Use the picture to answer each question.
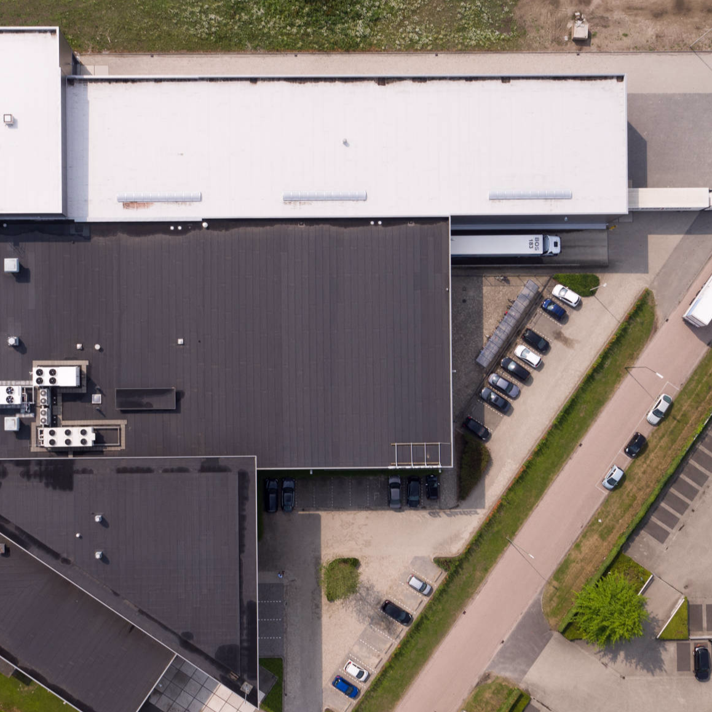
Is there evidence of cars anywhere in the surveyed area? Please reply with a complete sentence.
Yes, there's a car down there.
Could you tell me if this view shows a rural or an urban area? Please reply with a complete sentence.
The land in this view is best described as urban.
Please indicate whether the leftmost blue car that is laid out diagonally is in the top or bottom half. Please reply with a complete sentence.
It is in the bottom half that the leftmost blue car that is laid out diagonally appears.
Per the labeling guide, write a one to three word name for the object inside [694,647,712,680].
car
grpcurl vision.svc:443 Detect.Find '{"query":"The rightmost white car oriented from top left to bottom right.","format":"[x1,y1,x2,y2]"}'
[551,284,584,310]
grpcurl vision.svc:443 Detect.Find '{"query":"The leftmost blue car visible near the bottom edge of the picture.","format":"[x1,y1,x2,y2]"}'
[330,676,360,699]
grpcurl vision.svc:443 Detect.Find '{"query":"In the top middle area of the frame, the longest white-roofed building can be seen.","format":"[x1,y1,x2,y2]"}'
[64,74,629,231]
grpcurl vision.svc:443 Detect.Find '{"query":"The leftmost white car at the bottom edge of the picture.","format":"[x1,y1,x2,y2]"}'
[342,660,370,682]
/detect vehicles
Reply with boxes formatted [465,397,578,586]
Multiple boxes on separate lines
[694,647,712,680]
[647,394,674,425]
[479,387,511,413]
[330,676,360,699]
[602,464,624,490]
[387,476,402,509]
[450,237,560,259]
[425,476,439,500]
[406,477,422,509]
[381,600,413,626]
[512,345,544,369]
[683,273,712,327]
[462,416,492,440]
[520,329,550,353]
[551,284,584,310]
[501,358,532,382]
[489,374,521,399]
[406,574,432,597]
[628,188,712,212]
[342,660,370,682]
[624,431,648,458]
[539,298,570,321]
